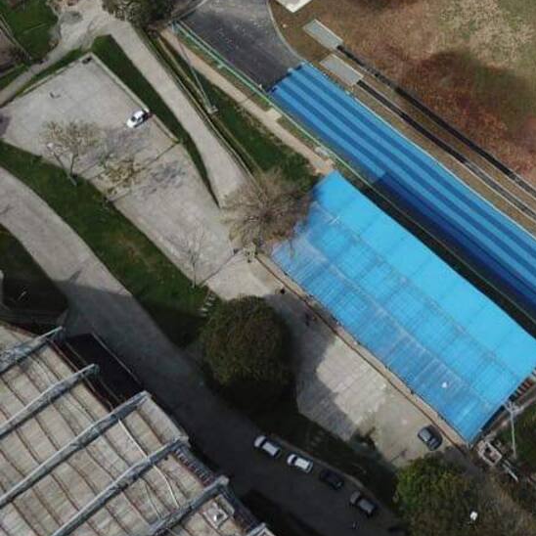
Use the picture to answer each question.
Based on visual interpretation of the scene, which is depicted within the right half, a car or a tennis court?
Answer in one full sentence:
What appears within the right half is a car.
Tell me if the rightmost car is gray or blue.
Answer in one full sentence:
The color of the rightmost car is gray.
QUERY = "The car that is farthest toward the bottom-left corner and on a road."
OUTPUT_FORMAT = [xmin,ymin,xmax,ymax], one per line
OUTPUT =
[252,435,283,459]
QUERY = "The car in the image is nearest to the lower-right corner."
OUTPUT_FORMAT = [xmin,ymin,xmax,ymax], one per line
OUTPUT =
[417,426,442,450]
